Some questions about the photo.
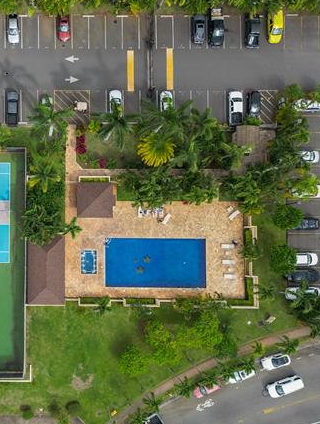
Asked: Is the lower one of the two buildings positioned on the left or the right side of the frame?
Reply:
left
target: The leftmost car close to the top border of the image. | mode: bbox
[5,13,19,44]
